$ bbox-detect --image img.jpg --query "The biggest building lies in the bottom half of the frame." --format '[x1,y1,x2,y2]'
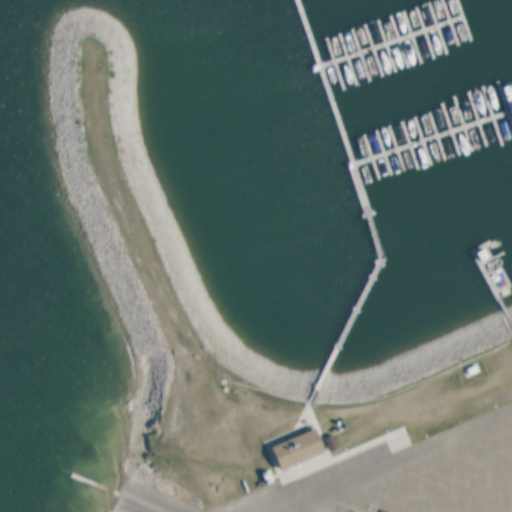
[272,431,325,471]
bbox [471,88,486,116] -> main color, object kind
white boat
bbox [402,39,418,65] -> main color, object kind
white boat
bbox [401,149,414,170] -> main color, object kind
gray boat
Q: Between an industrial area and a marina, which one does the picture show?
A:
marina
